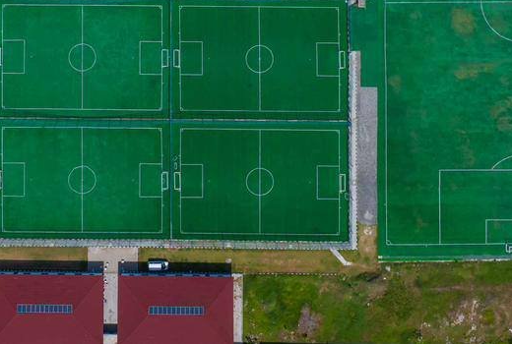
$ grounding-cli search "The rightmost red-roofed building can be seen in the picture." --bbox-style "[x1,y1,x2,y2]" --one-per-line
[118,272,233,344]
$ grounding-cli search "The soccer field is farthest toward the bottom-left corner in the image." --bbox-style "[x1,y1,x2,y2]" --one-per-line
[0,121,169,239]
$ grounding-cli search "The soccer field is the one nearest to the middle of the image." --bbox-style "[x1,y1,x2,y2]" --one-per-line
[170,120,348,239]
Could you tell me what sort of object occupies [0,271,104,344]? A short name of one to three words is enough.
building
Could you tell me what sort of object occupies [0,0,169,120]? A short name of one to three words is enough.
soccer field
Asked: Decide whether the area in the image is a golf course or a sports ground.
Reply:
sports ground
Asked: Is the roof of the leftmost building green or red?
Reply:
red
